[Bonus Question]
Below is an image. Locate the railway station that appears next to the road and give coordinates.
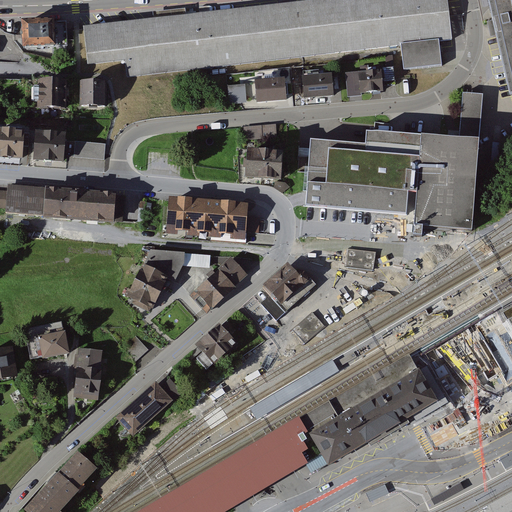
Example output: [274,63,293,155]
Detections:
[310,368,438,464]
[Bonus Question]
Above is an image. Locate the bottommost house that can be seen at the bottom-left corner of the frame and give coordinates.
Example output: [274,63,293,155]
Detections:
[24,472,80,512]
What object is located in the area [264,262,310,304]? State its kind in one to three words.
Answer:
house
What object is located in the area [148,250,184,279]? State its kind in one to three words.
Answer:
building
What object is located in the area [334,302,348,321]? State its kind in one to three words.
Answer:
vehicle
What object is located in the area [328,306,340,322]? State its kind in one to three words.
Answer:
vehicle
